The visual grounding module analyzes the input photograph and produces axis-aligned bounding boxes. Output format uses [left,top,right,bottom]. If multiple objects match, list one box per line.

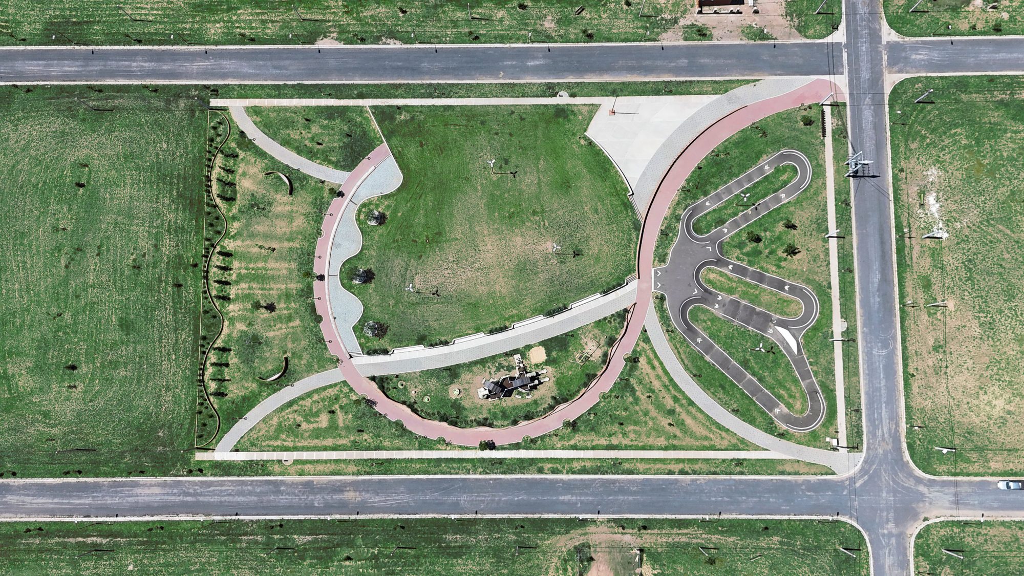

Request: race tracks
[652,149,826,432]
